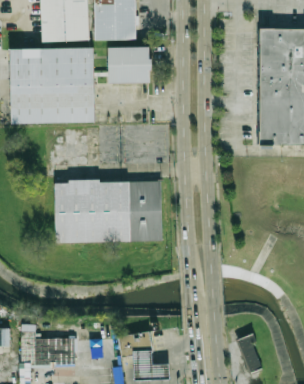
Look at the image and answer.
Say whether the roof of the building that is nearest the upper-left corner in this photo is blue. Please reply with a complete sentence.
No, from above the roof of the building that is nearest the upper-left corner looks white.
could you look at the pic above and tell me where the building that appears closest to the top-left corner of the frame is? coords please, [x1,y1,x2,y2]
[40,0,90,42]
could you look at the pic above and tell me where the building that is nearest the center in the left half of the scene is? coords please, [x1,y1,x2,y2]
[55,182,162,244]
